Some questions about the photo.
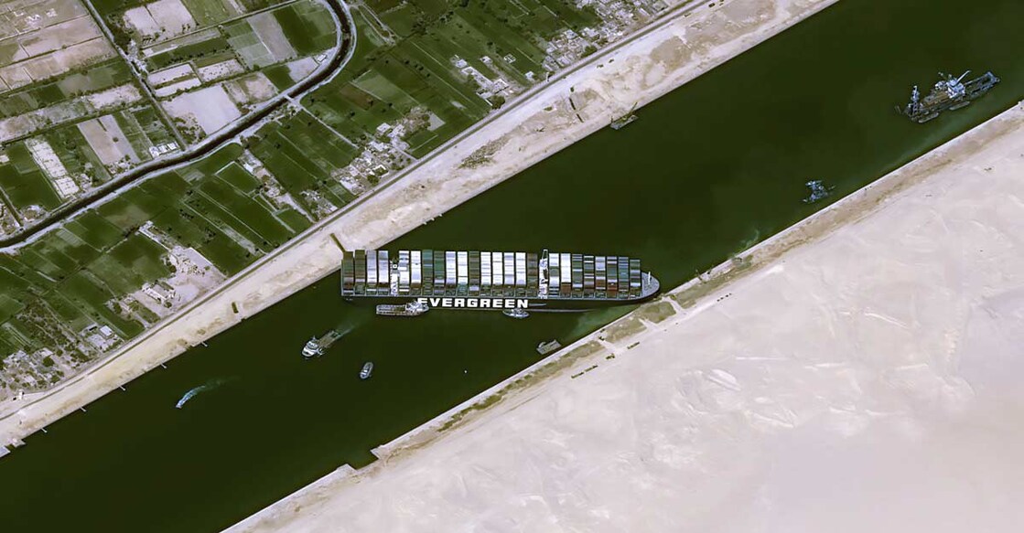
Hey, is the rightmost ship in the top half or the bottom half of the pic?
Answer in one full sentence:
The rightmost ship sits in the top half of the picture.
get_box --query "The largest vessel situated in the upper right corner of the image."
[906,68,1000,118]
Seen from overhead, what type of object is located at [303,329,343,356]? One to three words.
ship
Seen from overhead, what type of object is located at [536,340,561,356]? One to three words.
ship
